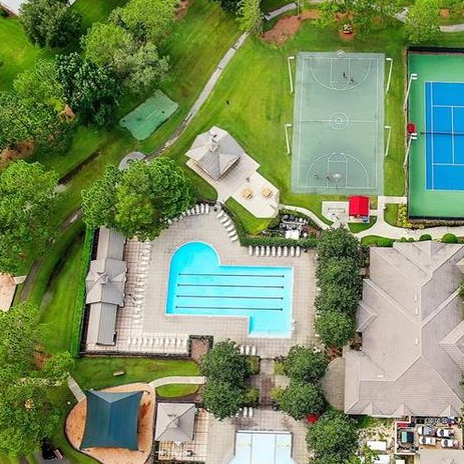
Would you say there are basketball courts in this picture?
Yes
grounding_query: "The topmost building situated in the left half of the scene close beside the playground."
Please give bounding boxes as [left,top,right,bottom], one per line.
[85,226,129,347]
